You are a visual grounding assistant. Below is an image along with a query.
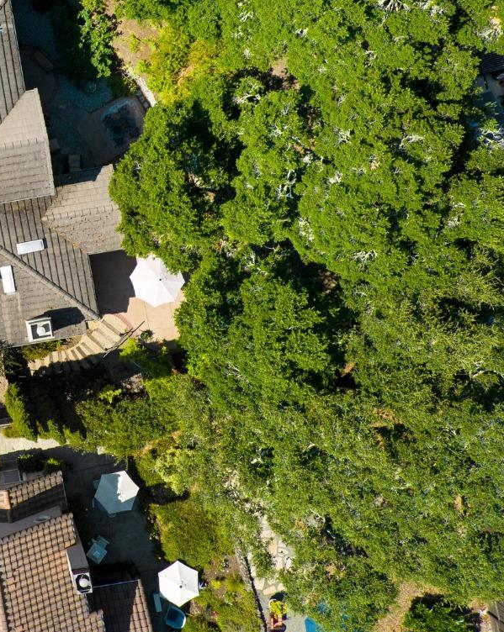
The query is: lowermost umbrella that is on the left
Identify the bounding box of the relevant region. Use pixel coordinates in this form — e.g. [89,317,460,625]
[157,555,199,602]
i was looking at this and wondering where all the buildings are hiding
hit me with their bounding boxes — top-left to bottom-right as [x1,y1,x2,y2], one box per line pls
[0,454,153,632]
[0,0,128,351]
